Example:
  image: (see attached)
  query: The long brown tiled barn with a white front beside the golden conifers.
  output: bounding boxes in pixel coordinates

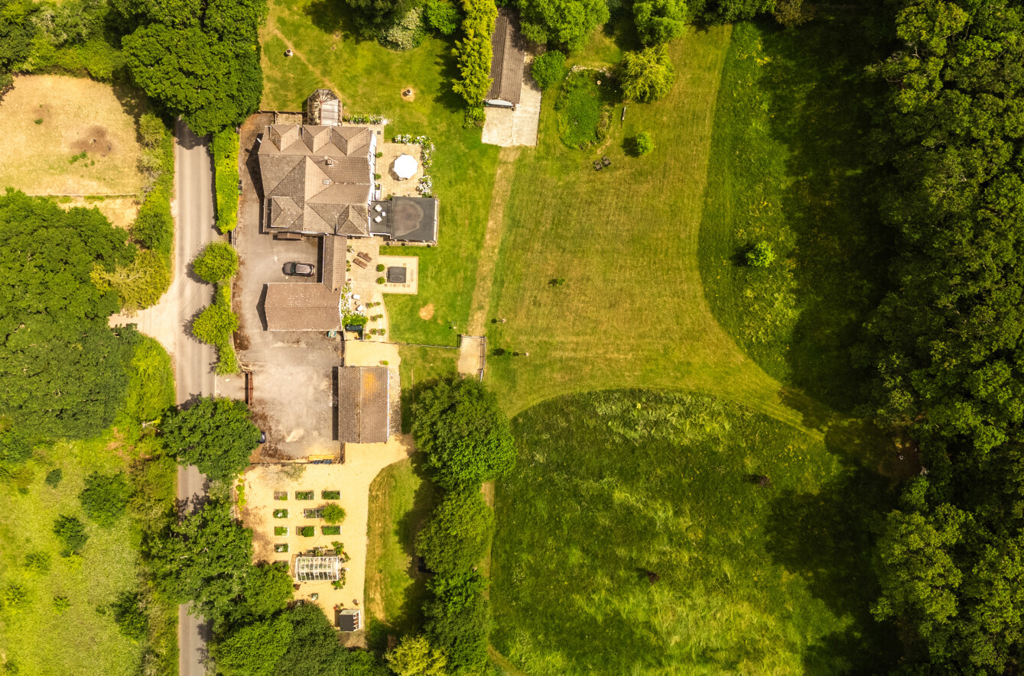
[488,1,525,109]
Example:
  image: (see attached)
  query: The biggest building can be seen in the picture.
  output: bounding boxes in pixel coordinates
[256,88,438,331]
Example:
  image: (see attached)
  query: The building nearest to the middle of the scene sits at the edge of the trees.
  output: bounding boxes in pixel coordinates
[339,365,390,444]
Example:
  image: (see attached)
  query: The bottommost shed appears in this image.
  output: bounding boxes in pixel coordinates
[339,606,362,632]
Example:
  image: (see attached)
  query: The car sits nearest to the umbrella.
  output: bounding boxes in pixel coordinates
[283,259,317,276]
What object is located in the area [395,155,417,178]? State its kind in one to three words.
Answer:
umbrella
